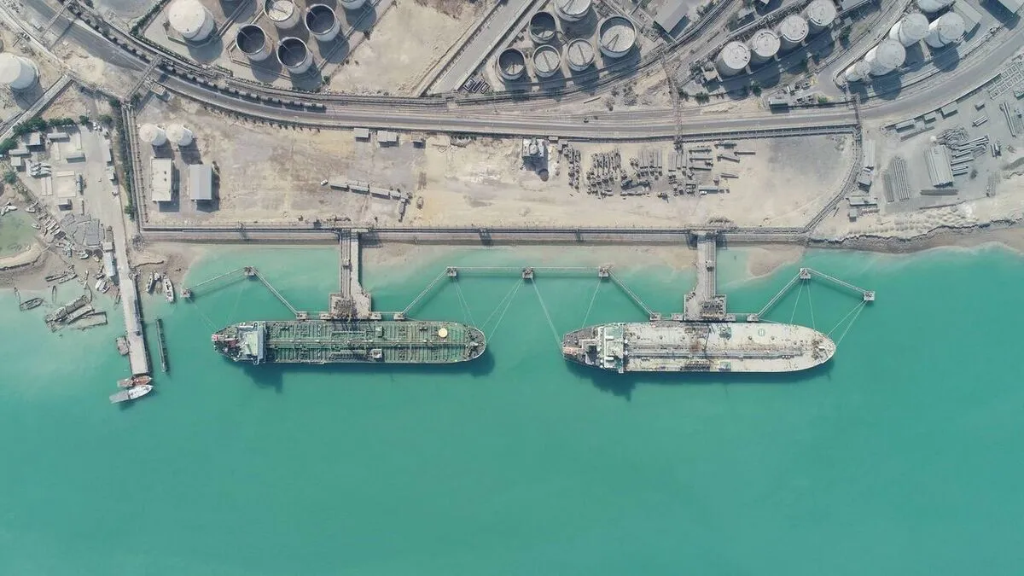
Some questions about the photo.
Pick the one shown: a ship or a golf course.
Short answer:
ship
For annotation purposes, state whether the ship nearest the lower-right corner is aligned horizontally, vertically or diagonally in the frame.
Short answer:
horizontally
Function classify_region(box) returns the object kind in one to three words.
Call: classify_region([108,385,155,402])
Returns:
boat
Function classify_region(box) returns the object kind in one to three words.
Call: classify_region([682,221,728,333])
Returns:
pier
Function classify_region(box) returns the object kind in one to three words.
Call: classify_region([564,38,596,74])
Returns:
storage tank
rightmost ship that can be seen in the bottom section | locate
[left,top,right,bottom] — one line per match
[562,322,838,373]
